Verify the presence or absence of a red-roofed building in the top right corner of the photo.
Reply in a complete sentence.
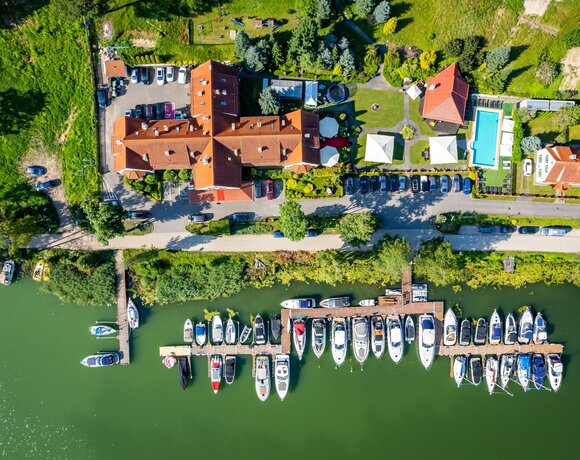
Yes, the scene does show a red-roofed building in the top right corner of the photo.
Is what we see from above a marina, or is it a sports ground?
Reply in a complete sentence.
It's a marina.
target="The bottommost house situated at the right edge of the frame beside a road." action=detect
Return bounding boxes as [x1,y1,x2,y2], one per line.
[532,145,580,195]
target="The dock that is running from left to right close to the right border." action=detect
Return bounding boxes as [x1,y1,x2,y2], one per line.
[434,343,563,356]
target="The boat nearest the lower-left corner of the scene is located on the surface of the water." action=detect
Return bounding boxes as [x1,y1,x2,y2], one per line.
[80,352,121,367]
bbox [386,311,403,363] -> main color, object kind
white boat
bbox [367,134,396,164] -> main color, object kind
white tent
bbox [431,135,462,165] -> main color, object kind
white tent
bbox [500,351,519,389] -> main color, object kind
white boat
